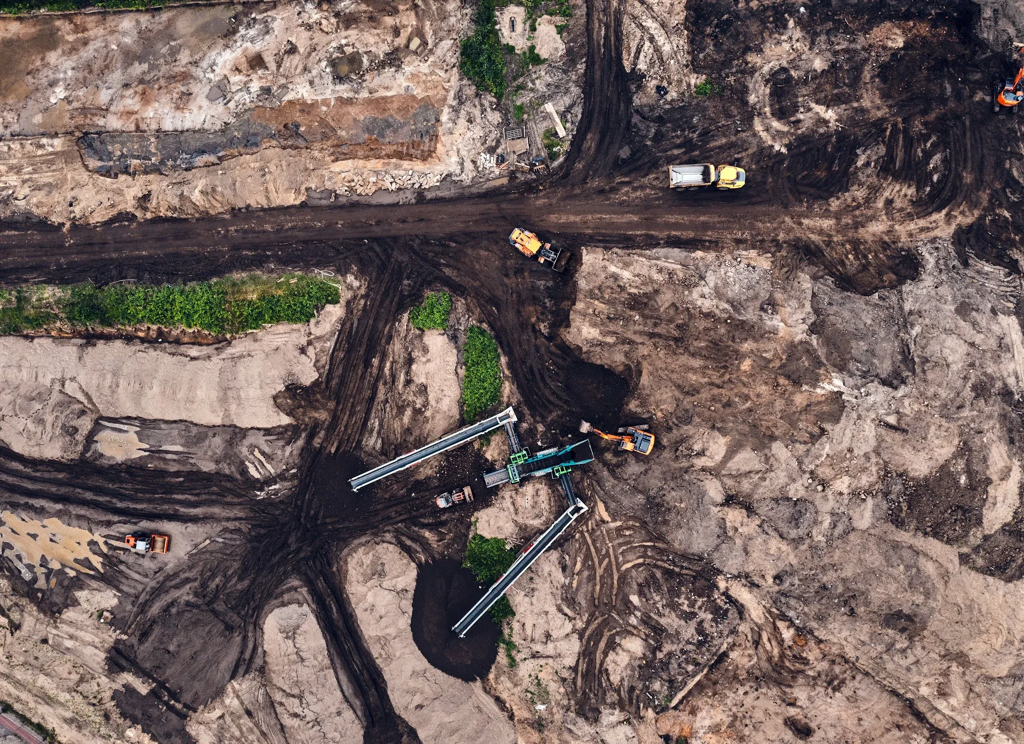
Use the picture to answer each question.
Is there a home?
No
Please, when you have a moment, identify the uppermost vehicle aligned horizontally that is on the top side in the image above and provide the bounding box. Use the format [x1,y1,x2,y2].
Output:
[668,162,745,190]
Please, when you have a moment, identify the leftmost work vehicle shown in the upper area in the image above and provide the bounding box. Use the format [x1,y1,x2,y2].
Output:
[509,228,566,271]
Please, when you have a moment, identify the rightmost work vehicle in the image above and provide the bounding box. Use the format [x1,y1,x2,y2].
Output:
[991,42,1024,112]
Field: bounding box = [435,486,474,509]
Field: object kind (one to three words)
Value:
work vehicle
